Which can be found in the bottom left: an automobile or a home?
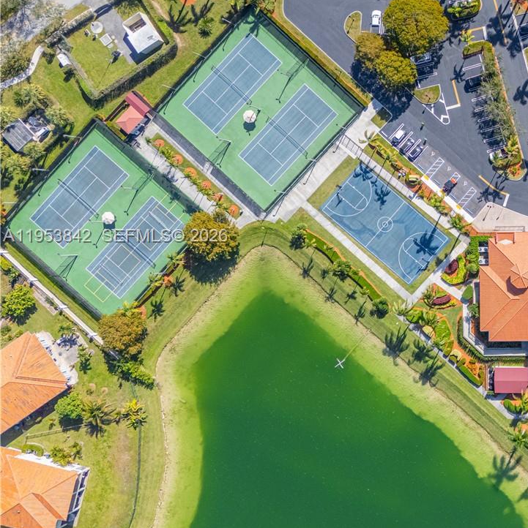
home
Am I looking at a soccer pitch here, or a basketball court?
basketball court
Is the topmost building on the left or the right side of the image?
left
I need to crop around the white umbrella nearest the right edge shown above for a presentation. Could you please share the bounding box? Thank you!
[243,110,259,123]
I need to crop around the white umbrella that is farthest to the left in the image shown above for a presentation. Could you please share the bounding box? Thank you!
[103,210,120,224]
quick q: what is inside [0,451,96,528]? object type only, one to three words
house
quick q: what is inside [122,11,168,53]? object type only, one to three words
building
